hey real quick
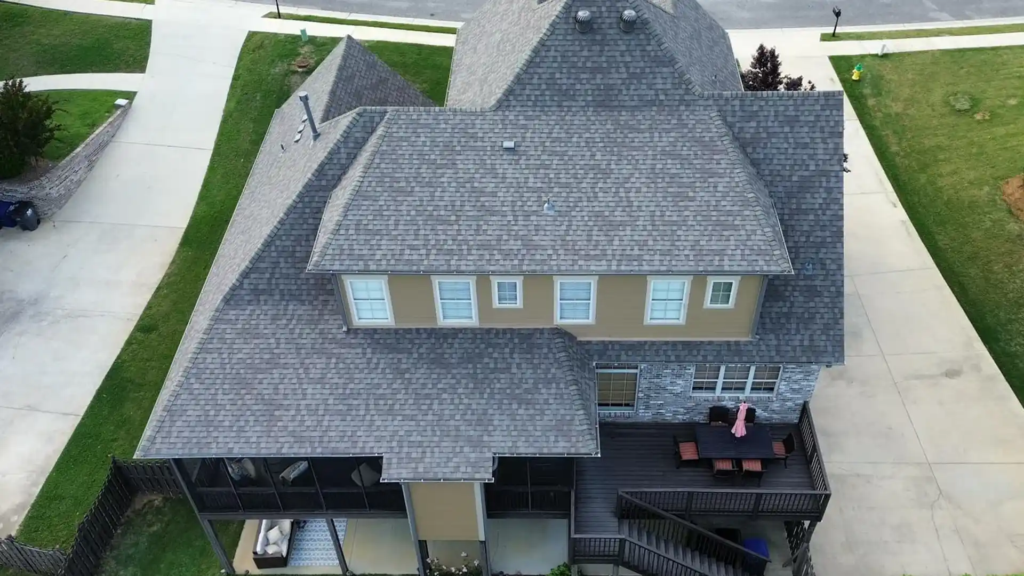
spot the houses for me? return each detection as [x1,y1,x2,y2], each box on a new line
[132,0,845,576]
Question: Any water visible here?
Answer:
No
